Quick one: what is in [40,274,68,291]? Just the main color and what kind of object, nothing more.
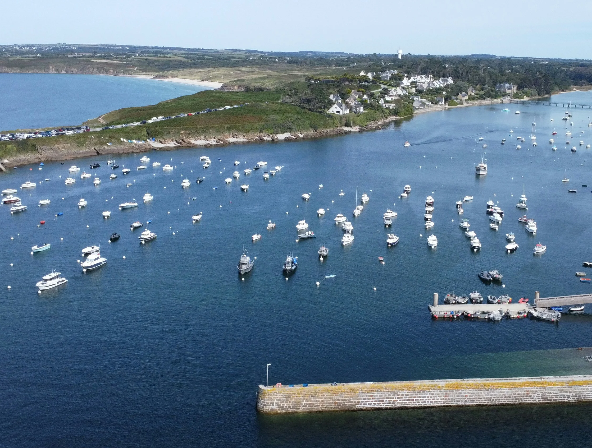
white boat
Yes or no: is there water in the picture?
Yes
